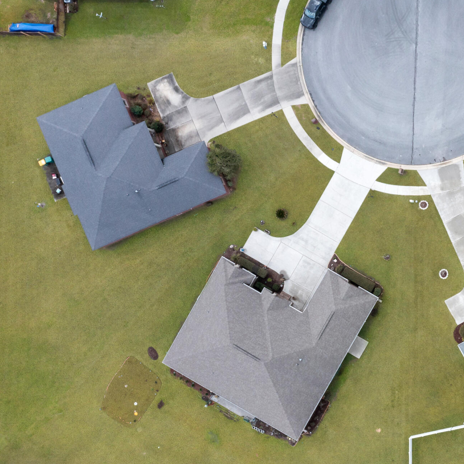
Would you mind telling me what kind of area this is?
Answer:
residential area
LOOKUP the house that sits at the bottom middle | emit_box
[161,255,379,441]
